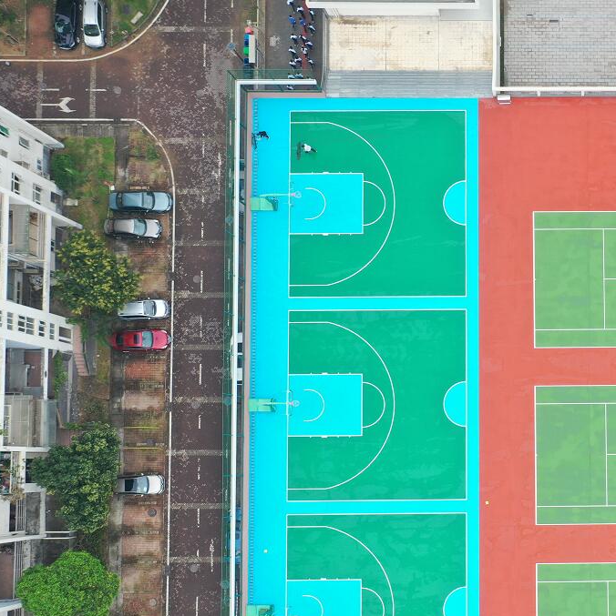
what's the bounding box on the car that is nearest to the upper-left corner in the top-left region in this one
[50,0,82,45]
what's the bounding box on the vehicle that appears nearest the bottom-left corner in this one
[109,473,167,499]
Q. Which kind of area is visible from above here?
sports ground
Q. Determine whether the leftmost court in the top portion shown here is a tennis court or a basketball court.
basketball court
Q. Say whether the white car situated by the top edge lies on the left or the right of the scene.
left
